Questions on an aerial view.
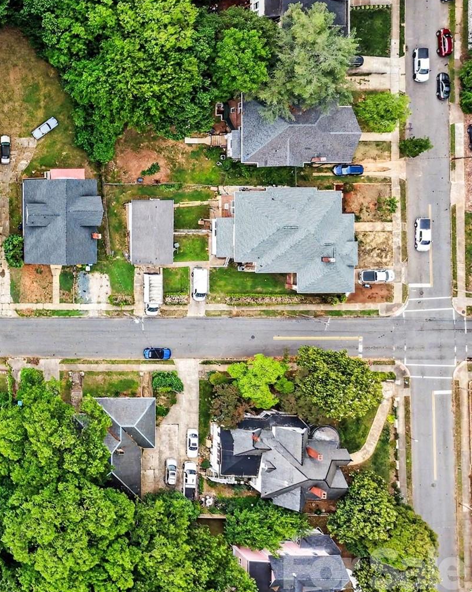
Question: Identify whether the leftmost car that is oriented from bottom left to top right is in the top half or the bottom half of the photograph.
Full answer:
It is in the top half that the leftmost car that is oriented from bottom left to top right appears.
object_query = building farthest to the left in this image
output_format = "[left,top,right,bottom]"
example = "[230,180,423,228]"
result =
[22,168,108,268]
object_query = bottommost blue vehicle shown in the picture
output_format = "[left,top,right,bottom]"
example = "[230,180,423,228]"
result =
[143,347,170,361]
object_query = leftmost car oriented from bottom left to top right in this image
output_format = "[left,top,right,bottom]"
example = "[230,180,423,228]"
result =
[31,117,59,140]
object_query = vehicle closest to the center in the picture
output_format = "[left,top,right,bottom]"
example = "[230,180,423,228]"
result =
[192,268,207,300]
